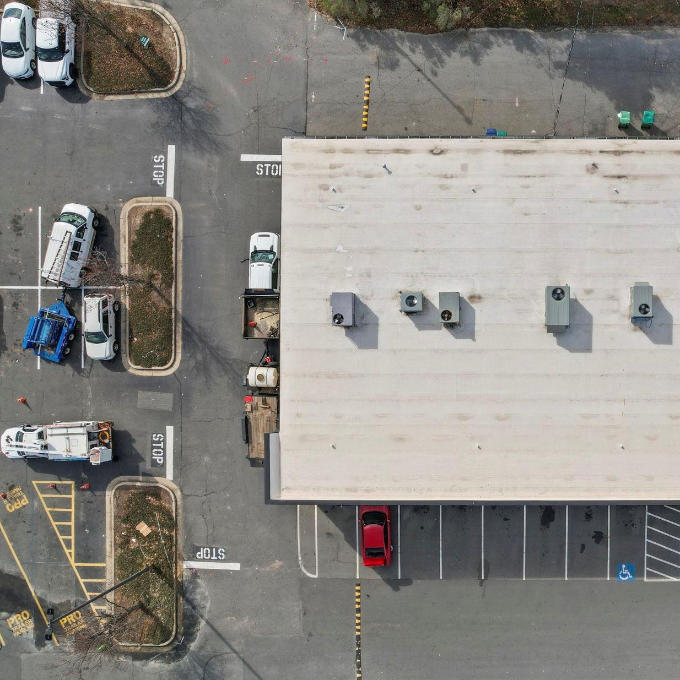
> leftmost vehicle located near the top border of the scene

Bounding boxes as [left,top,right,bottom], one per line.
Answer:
[0,6,36,79]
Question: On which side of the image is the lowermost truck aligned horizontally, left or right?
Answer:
left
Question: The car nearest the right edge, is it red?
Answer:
Yes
